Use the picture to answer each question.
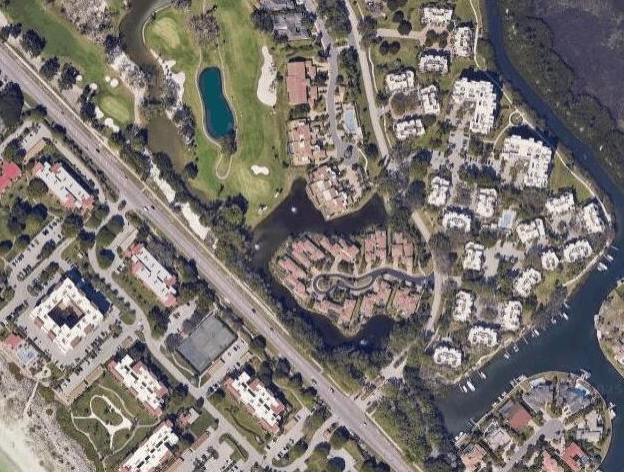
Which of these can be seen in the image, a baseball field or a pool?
pool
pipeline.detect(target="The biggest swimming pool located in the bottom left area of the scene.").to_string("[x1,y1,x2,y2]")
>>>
[15,344,38,363]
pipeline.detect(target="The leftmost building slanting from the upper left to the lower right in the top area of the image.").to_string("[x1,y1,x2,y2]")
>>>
[26,155,97,216]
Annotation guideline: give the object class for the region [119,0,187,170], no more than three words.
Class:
pond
